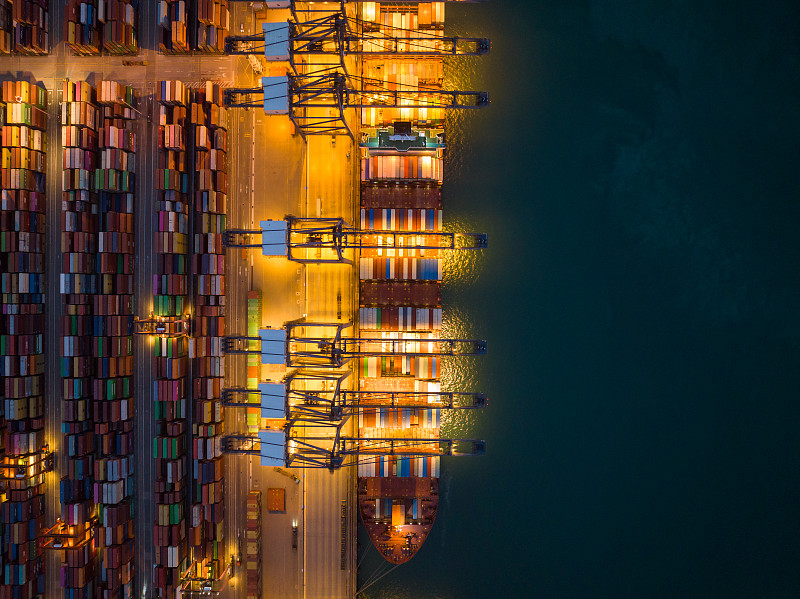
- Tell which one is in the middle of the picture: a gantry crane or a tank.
gantry crane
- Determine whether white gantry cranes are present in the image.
No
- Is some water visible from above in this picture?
Yes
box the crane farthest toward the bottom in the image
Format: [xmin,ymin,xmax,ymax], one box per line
[178,562,230,594]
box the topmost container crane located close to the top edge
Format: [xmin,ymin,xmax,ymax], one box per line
[227,0,491,52]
